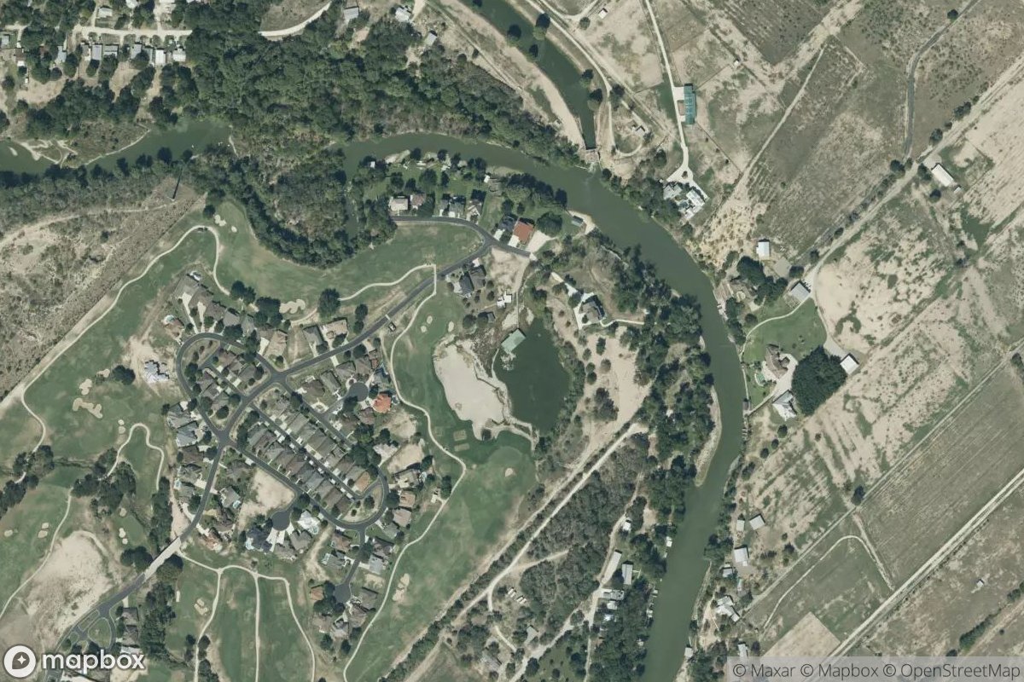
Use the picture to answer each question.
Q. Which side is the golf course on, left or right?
left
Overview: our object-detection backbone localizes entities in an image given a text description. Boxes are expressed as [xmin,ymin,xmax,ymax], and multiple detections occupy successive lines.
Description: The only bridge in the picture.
[139,538,184,580]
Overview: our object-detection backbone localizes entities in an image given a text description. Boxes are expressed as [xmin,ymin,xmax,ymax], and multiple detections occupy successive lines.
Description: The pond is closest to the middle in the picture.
[494,318,569,435]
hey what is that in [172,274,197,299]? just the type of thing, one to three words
house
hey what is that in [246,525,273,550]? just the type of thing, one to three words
house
